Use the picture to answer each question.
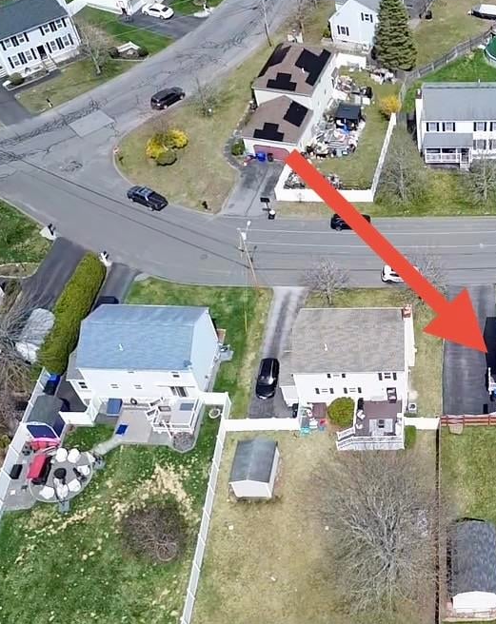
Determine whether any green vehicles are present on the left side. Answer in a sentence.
No, there's no green vehicle to be seen on the left side.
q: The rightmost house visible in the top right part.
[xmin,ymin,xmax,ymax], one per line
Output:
[416,76,496,174]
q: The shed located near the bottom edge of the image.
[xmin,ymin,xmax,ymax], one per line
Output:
[452,528,496,616]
